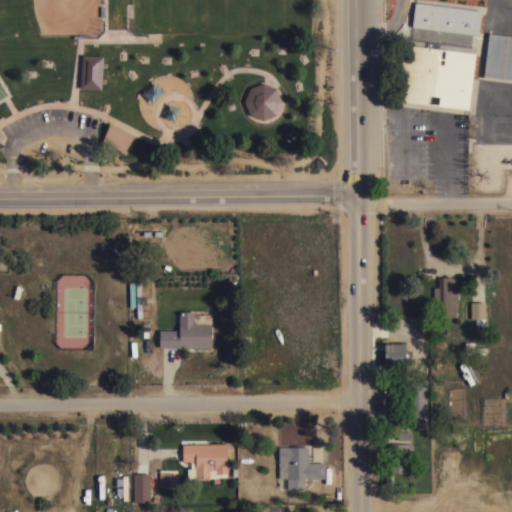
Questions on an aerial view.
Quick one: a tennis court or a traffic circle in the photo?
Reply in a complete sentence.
It is a tennis court that can be seen here.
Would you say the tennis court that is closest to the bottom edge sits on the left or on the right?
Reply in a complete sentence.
The tennis court that is closest to the bottom edge is on the left side of the image.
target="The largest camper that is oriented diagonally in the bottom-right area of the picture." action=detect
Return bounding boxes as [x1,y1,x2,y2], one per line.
[459,364,476,386]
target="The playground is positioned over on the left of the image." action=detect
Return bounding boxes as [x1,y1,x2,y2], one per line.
[139,75,199,134]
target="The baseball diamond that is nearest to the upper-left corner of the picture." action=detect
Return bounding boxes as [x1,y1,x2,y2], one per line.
[34,0,104,38]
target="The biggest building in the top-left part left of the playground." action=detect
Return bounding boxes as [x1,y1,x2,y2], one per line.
[78,56,104,90]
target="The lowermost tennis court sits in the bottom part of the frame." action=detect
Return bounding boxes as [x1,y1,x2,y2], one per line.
[56,275,94,349]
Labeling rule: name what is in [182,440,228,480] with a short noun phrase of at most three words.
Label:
house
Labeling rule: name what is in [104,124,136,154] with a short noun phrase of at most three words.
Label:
building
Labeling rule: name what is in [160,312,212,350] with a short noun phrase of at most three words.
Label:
house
